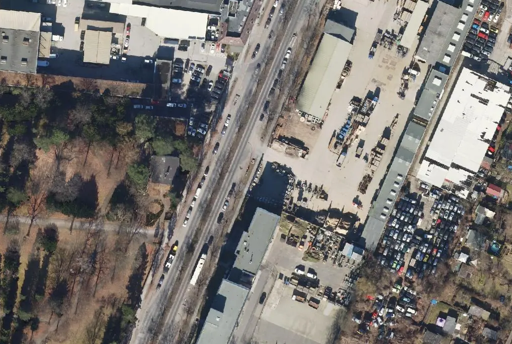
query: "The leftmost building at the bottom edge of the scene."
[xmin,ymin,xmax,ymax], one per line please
[194,278,250,344]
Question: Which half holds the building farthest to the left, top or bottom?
top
